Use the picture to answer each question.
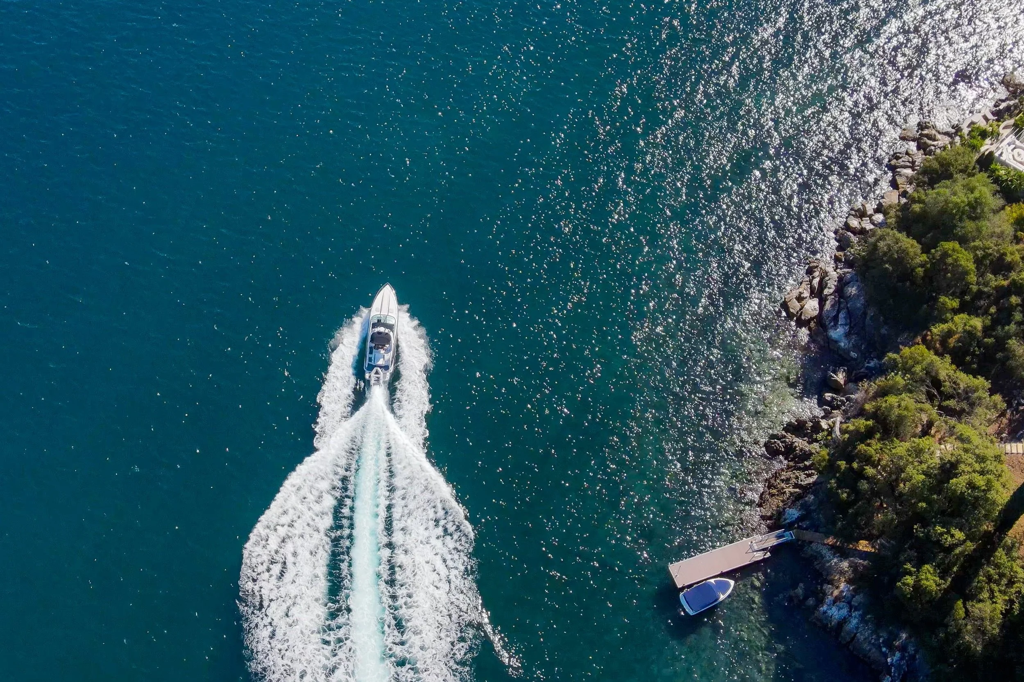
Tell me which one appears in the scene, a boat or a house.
boat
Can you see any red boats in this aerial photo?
No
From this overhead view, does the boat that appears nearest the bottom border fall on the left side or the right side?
right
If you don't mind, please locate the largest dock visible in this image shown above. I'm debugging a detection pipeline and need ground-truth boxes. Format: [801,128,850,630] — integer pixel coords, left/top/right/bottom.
[668,535,770,588]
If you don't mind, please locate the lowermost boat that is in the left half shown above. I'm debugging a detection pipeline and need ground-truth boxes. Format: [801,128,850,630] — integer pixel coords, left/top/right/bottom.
[371,366,384,387]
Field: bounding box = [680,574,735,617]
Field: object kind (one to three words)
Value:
boat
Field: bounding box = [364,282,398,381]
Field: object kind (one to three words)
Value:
boat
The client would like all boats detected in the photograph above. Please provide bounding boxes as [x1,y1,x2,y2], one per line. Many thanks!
[371,366,384,387]
[364,282,398,381]
[680,574,735,617]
